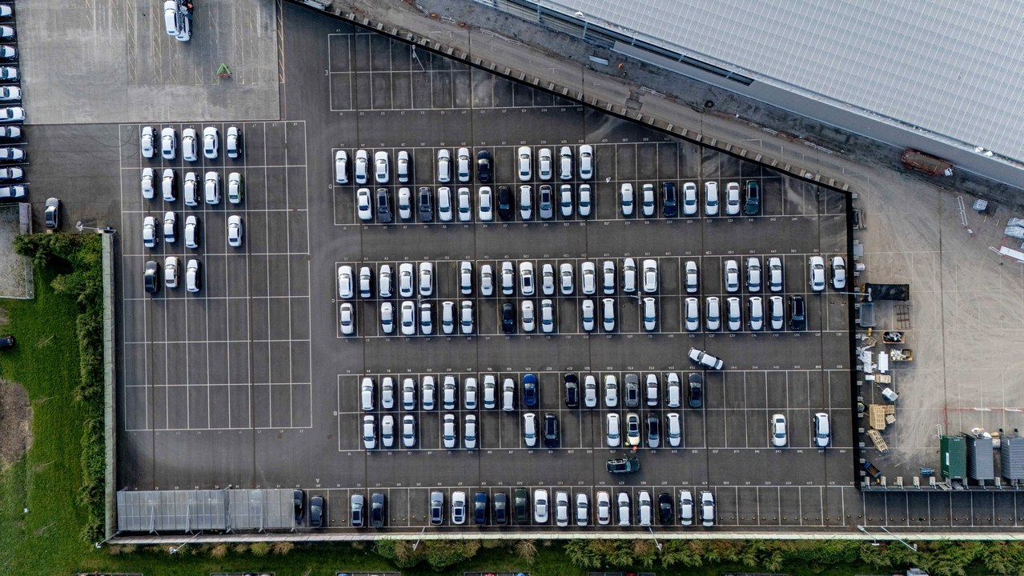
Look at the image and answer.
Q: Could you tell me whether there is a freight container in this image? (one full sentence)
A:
Yes, there's a freight container here.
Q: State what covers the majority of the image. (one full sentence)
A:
The bulk of the photo consists of paved ground.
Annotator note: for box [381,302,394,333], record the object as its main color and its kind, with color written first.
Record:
white vehicle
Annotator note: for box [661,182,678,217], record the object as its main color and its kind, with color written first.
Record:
black car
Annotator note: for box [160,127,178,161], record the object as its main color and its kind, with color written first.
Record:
white car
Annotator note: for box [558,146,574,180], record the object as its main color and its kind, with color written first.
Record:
white car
